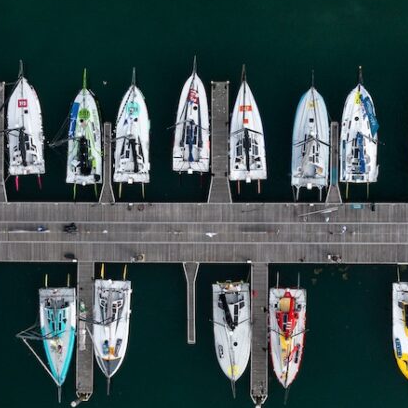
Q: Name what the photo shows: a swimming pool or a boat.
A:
boat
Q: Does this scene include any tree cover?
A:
No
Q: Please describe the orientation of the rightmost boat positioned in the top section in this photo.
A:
up and down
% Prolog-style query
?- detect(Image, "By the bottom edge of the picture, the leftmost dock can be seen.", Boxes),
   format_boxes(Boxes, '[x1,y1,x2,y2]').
[75,262,96,402]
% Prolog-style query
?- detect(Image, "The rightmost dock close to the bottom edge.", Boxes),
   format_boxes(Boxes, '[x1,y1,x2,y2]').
[249,262,270,405]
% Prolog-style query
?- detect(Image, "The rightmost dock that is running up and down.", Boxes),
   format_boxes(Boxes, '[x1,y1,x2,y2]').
[326,122,342,202]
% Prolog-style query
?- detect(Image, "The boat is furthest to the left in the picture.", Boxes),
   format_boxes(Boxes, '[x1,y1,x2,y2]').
[0,60,45,193]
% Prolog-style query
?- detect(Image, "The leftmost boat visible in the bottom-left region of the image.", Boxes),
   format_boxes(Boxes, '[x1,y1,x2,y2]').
[15,274,76,403]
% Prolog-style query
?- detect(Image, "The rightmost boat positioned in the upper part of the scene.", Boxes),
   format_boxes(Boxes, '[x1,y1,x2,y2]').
[338,66,384,197]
